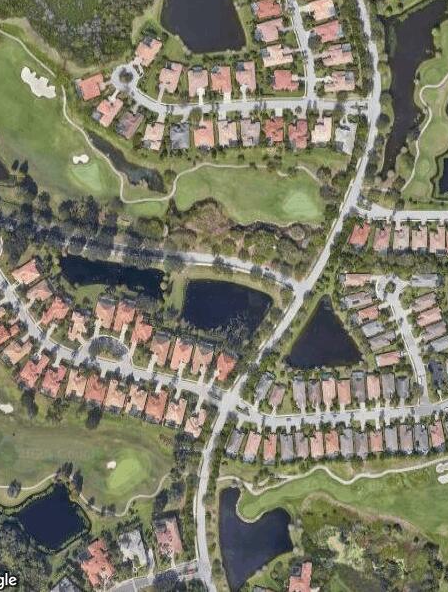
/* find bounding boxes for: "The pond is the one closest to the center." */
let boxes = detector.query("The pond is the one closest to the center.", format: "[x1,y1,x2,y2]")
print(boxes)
[182,278,273,338]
